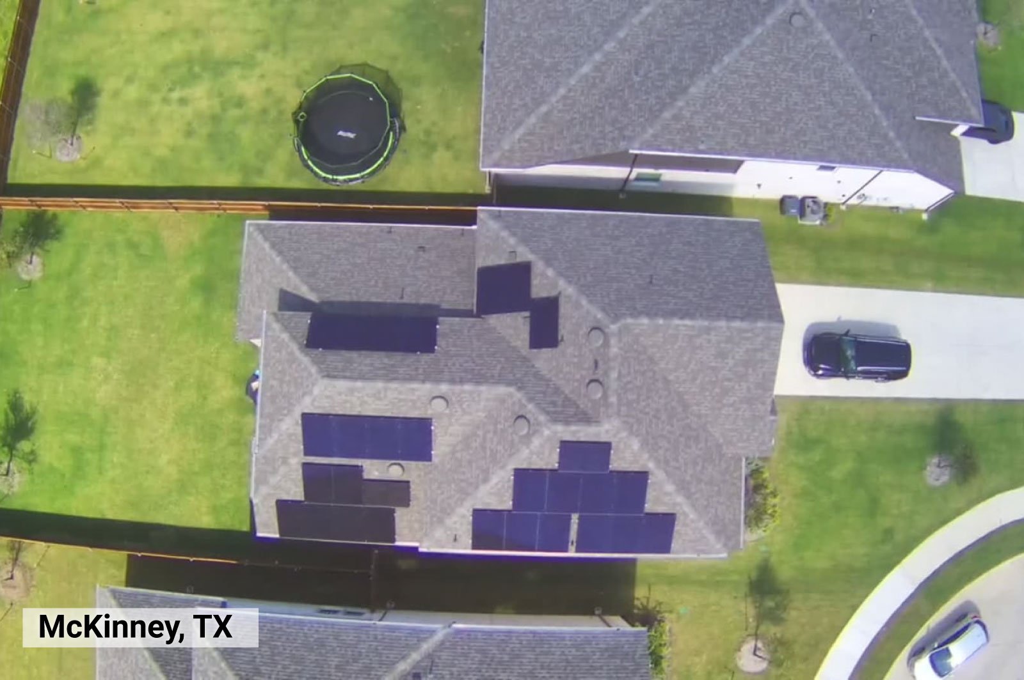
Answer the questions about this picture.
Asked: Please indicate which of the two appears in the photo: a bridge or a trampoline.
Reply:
trampoline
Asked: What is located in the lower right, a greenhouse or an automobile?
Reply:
automobile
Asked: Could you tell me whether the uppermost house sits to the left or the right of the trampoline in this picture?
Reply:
to its right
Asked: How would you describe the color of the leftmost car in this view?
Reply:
black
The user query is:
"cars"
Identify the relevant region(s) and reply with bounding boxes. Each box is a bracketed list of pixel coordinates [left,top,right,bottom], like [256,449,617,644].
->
[803,330,912,381]
[910,616,988,680]
[946,103,1016,147]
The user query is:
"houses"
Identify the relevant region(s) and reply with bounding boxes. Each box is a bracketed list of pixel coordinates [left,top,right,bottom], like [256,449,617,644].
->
[235,204,784,556]
[94,584,651,680]
[479,0,985,216]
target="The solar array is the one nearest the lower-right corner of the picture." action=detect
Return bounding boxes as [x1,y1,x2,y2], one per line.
[471,441,676,554]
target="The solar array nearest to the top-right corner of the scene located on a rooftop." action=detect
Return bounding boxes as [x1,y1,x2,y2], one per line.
[477,261,560,350]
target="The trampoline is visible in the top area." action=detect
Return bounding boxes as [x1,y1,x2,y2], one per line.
[293,79,401,183]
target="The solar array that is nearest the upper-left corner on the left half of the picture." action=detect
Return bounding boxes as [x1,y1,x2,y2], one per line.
[306,318,439,353]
